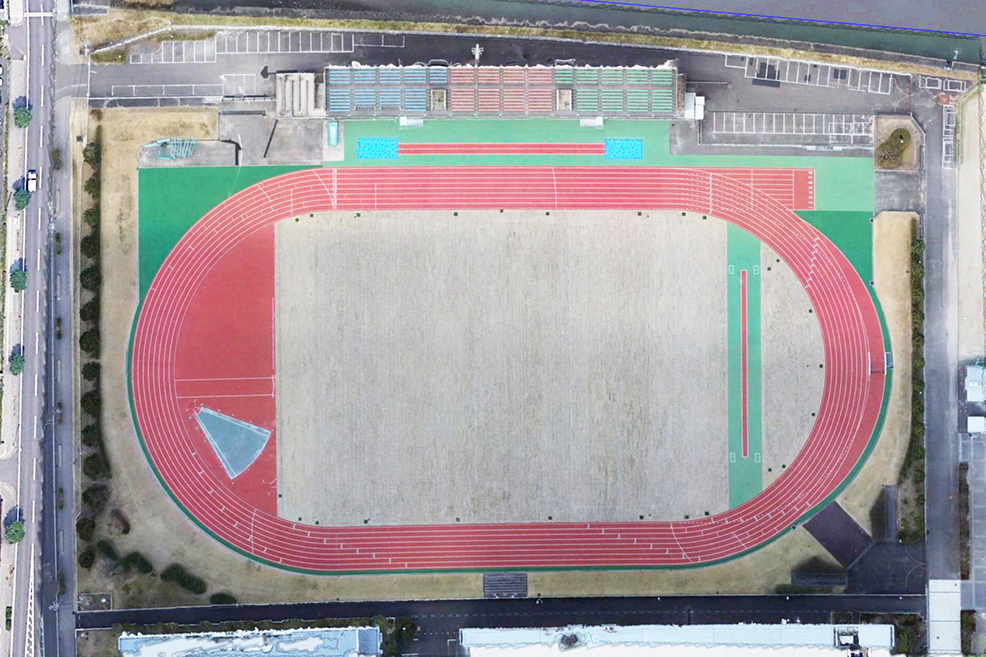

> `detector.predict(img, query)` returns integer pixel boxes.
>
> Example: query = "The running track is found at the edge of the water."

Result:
[126,119,894,577]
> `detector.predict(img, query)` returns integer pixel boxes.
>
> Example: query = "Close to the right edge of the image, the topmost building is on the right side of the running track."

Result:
[966,366,984,402]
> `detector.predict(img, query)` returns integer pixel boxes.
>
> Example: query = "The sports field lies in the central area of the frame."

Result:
[274,212,825,526]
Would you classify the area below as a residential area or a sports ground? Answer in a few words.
sports ground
